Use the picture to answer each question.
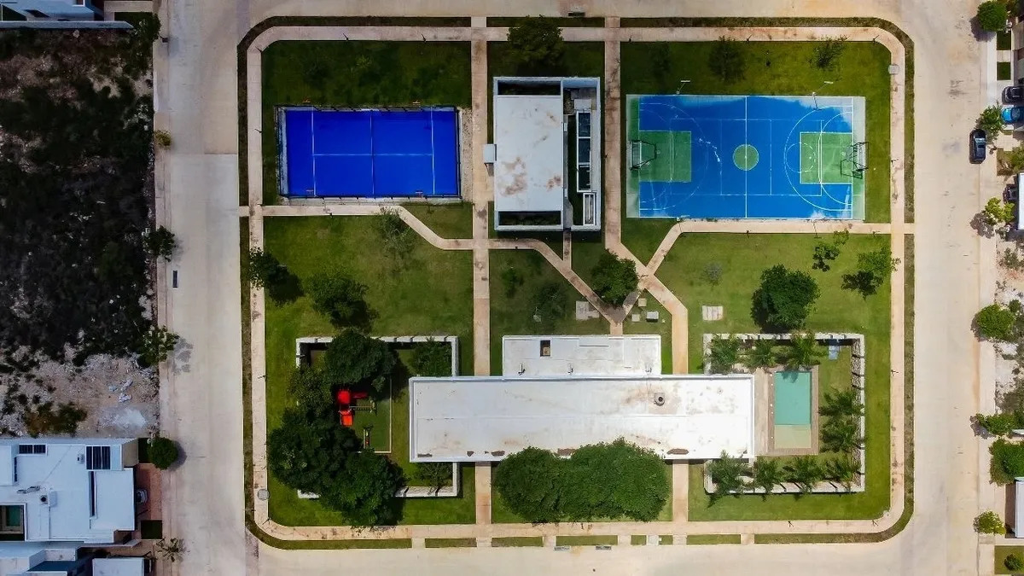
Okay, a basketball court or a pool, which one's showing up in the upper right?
basketball court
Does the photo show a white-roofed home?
Yes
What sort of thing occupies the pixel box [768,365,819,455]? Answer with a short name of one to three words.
swimming pool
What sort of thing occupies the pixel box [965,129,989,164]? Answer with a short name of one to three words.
car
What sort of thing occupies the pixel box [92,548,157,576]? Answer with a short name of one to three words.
building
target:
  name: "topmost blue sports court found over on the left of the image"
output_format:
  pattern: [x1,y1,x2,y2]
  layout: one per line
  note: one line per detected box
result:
[277,103,462,204]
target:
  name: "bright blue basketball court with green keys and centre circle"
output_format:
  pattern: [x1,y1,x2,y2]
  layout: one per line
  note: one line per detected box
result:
[627,94,865,219]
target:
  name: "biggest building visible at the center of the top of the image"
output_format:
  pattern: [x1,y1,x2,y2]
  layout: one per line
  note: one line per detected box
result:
[483,77,600,232]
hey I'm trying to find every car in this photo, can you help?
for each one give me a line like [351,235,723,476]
[136,488,146,505]
[992,185,1016,202]
[1003,105,1019,123]
[965,129,989,164]
[1003,86,1019,105]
